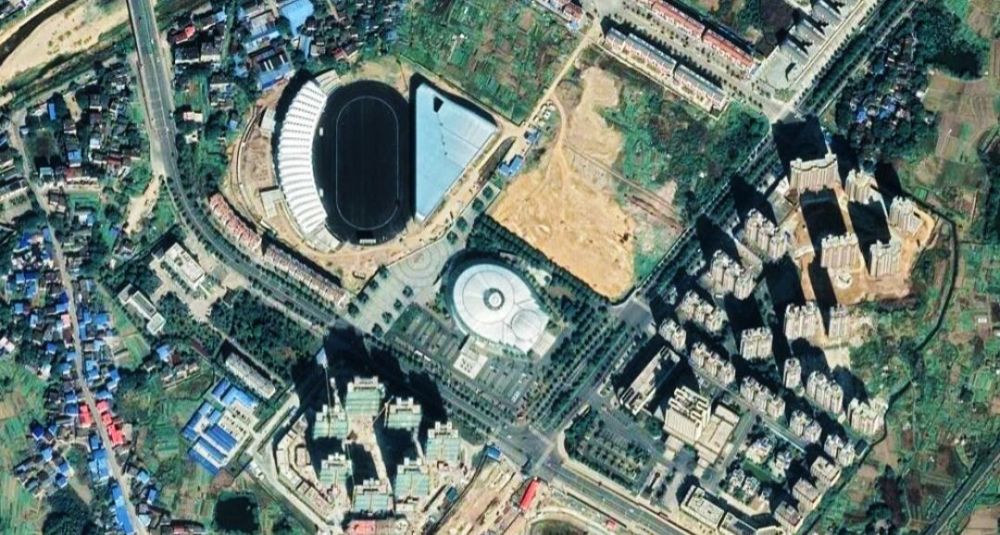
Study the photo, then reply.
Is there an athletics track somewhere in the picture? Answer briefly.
Yes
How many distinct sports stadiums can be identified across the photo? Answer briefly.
2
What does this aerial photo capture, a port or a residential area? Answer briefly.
residential area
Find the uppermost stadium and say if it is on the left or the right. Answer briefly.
left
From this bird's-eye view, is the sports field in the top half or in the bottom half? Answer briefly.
top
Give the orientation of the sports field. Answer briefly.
from top to bottom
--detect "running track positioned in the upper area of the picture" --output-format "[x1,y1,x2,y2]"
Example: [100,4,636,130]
[314,80,412,244]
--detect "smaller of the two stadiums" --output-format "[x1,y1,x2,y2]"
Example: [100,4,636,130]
[445,256,550,354]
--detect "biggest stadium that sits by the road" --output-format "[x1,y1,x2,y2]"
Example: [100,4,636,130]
[278,71,412,254]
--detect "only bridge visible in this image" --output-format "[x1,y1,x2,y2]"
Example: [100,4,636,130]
[127,0,162,59]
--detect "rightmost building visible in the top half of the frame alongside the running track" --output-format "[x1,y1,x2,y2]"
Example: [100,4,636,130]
[416,83,498,227]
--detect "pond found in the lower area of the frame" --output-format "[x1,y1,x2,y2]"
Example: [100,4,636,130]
[214,496,259,535]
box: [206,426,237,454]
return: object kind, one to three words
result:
shed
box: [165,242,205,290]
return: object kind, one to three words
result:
building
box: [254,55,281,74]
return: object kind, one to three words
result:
house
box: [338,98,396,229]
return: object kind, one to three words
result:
sports field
